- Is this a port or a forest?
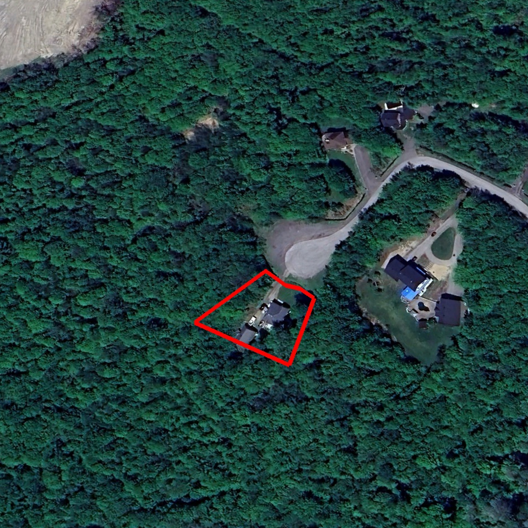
forest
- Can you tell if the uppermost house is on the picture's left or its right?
right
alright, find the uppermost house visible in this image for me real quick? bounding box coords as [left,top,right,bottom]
[381,101,417,131]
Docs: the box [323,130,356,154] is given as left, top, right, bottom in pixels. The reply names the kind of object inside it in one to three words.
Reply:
house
